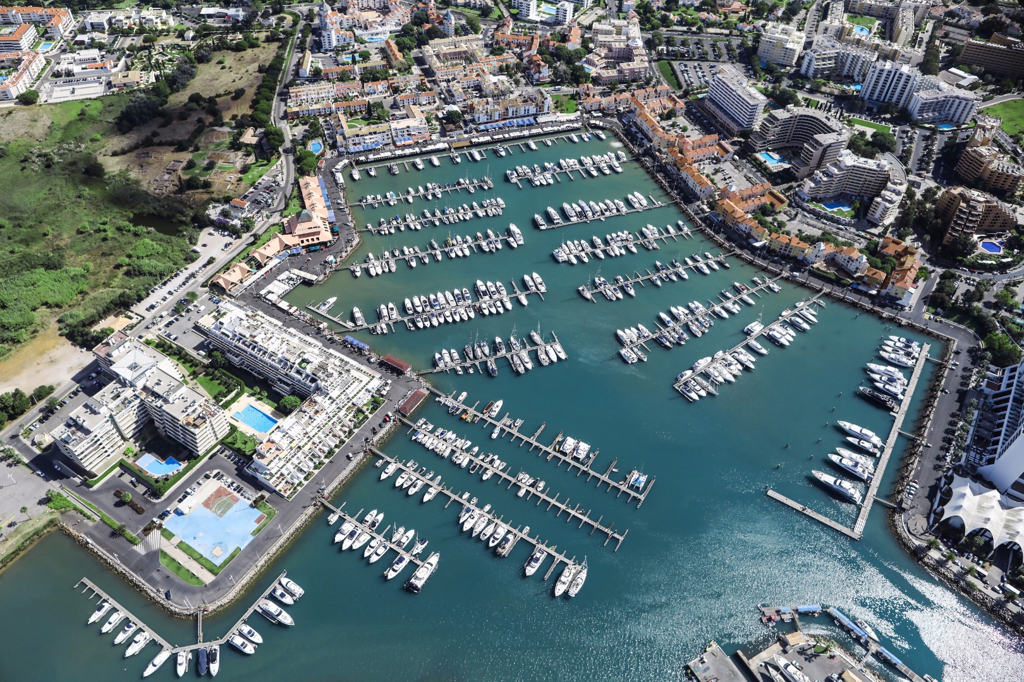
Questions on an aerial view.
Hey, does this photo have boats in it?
Yes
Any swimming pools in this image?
Yes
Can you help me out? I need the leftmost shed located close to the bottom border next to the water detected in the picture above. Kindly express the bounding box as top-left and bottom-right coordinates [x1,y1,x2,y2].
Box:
[783,628,806,651]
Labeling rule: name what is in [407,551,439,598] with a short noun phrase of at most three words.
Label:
boat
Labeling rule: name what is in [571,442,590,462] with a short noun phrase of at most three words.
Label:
boat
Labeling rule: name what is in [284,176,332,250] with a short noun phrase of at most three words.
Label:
building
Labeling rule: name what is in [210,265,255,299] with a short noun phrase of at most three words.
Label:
building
